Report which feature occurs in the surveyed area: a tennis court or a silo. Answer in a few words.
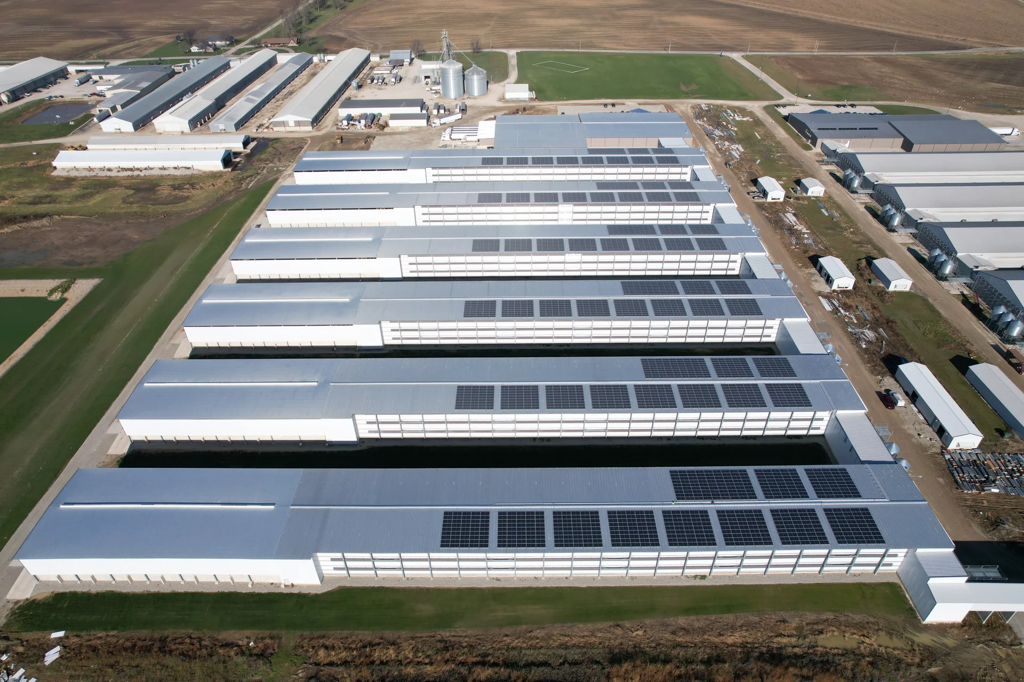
silo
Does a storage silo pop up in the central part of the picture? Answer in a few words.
No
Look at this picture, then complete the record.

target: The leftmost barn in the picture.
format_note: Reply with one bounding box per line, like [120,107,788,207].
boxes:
[0,56,67,104]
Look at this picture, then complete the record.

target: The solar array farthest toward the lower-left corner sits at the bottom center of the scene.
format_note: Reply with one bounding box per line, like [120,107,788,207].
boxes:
[440,510,489,548]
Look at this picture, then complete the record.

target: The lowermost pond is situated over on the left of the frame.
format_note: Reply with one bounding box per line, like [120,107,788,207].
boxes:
[0,297,66,366]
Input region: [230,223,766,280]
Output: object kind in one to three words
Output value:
barn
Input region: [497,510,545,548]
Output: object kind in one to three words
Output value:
solar array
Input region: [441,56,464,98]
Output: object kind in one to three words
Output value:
silo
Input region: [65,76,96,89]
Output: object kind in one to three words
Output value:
vehicle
